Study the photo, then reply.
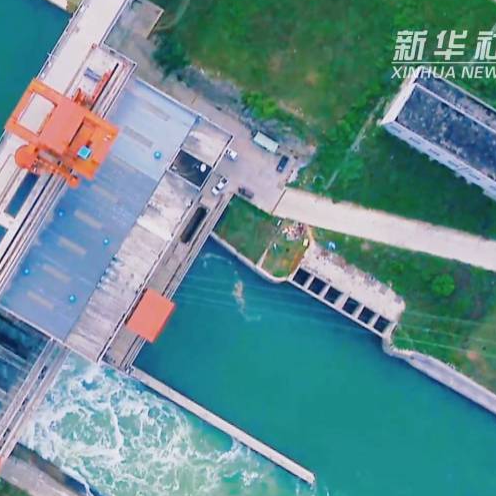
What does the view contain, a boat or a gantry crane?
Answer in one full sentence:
There is a gantry crane in the scene.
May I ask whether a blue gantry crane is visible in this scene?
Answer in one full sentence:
No, the photo shows no blue gantry crane.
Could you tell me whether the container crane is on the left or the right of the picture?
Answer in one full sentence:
The container crane appears in the left half of the scene.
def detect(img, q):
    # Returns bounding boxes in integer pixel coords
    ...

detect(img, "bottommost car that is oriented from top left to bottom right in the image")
[238,186,254,198]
